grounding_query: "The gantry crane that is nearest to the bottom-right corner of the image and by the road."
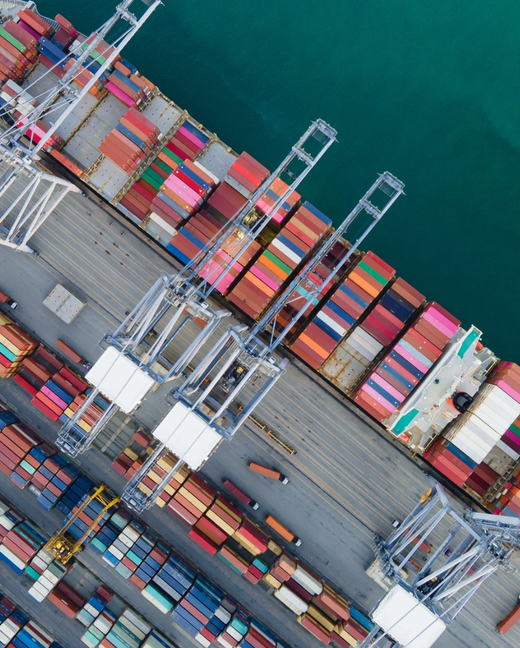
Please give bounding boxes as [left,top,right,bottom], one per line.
[348,464,520,648]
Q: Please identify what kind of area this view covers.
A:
port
